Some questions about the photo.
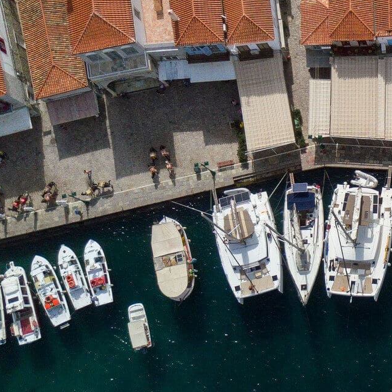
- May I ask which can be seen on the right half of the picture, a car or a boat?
boat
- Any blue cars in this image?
No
